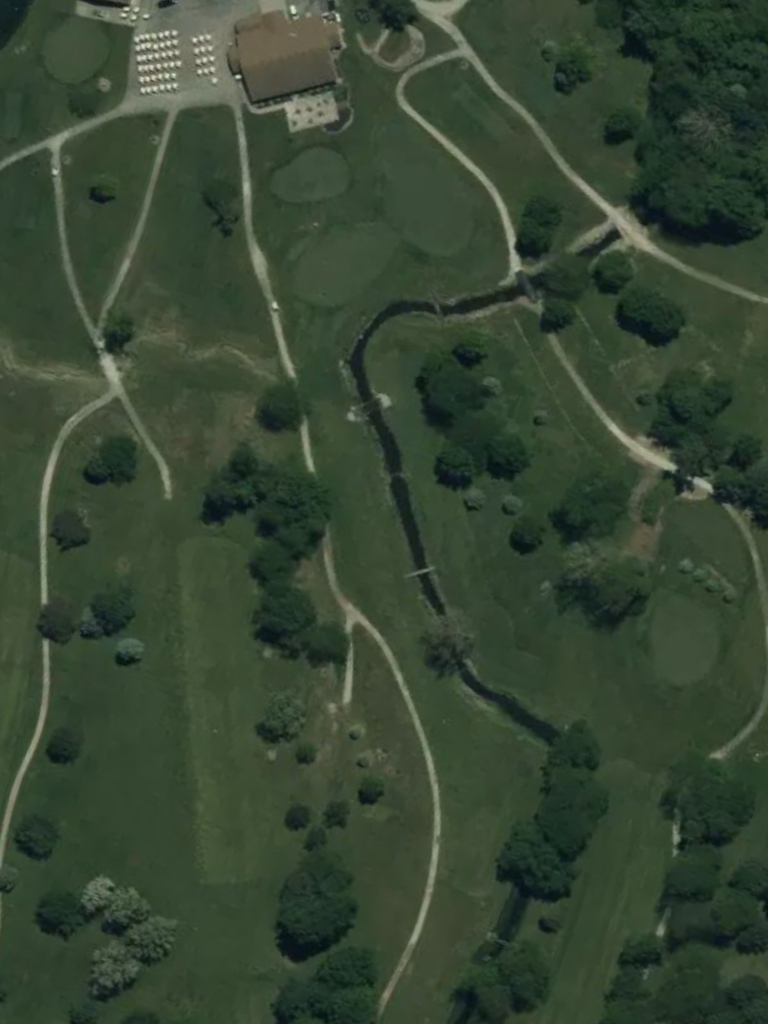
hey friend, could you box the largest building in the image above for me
[227,8,343,102]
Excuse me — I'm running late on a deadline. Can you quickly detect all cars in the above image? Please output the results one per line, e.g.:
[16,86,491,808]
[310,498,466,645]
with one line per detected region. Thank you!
[158,0,178,6]
[328,0,337,12]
